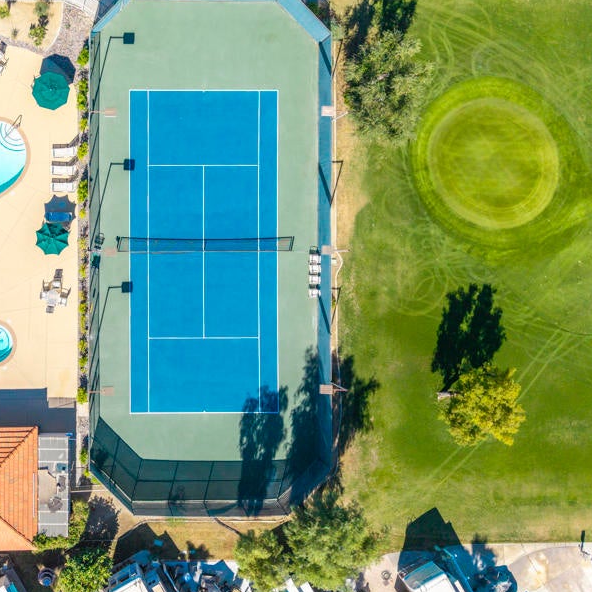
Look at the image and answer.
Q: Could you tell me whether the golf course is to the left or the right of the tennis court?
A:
on its right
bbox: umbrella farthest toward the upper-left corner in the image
[34,72,72,110]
